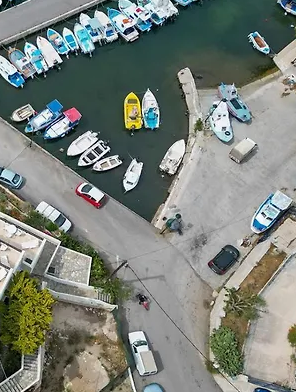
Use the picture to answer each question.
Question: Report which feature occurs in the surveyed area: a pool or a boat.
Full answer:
The image shows a boat.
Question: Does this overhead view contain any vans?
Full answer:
Yes, I can see a van in this picture.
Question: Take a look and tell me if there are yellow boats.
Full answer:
Yes, the frame does contain a yellow boat.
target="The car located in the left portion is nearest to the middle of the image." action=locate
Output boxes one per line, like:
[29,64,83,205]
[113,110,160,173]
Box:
[72,182,108,209]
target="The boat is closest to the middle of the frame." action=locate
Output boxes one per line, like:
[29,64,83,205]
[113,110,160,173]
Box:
[123,157,147,196]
